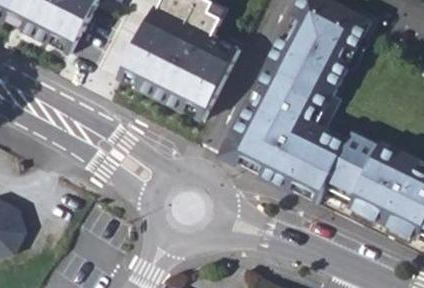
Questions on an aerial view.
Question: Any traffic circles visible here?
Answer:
Yes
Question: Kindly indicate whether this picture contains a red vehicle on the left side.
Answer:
No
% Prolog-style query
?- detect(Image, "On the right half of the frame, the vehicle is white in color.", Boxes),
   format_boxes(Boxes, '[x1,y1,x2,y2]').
[358,244,380,260]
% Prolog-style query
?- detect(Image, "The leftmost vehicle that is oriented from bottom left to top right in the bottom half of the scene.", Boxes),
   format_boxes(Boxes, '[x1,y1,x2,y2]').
[75,260,93,284]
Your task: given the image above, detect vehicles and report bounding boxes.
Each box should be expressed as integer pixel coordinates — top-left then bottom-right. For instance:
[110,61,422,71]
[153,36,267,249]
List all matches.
[74,58,96,73]
[312,223,334,238]
[60,193,84,210]
[96,276,110,288]
[281,228,305,244]
[102,218,119,240]
[90,28,106,48]
[50,205,72,221]
[358,244,380,260]
[75,260,93,284]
